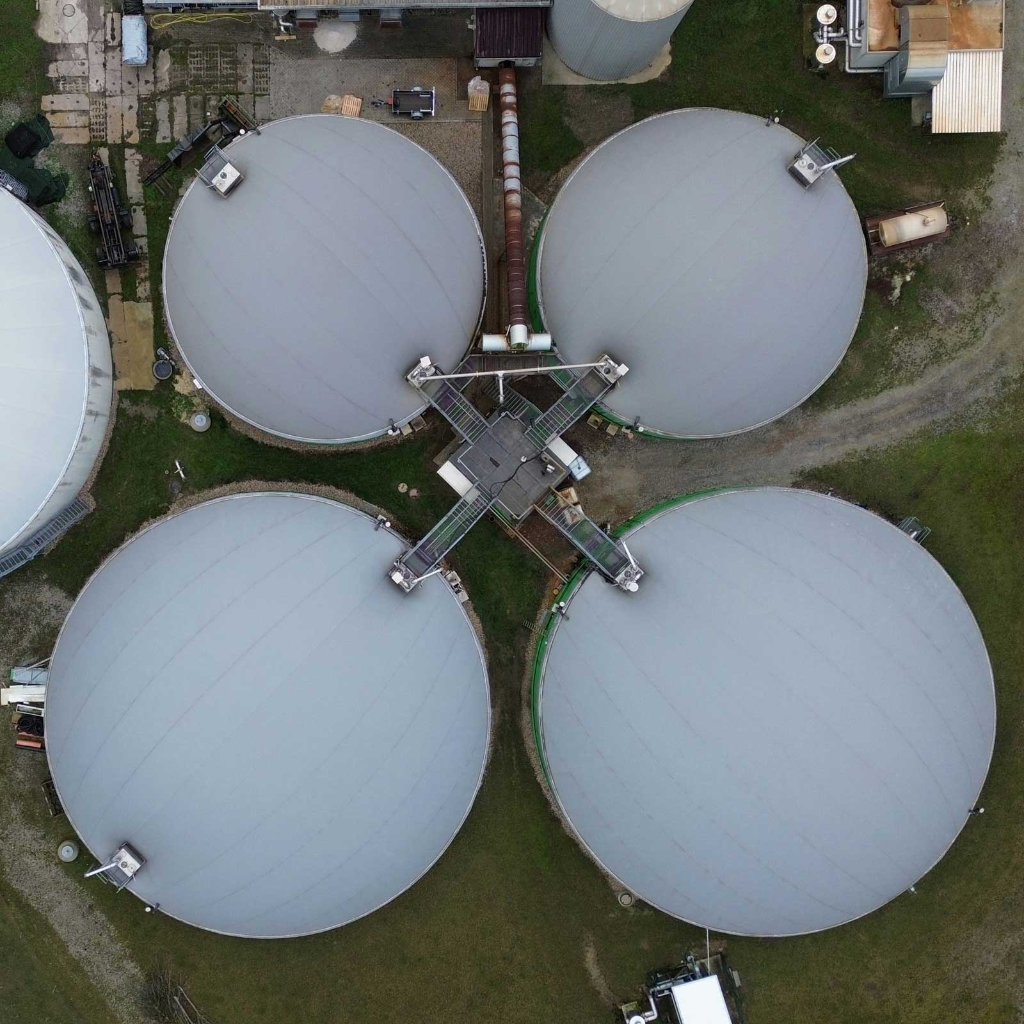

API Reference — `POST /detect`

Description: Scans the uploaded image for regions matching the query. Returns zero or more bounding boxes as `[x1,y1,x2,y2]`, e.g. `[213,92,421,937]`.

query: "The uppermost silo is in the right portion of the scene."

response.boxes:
[547,0,693,82]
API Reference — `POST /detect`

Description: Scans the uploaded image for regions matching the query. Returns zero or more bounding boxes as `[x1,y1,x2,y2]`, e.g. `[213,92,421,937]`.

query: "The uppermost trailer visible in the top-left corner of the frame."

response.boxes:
[123,0,151,73]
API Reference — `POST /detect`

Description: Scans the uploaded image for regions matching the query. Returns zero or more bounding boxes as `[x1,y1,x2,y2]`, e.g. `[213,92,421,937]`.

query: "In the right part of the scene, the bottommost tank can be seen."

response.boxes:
[532,485,995,939]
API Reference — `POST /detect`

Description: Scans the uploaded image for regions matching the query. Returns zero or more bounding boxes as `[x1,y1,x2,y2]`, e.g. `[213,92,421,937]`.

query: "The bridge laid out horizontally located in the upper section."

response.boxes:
[452,351,583,391]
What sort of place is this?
industrial area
